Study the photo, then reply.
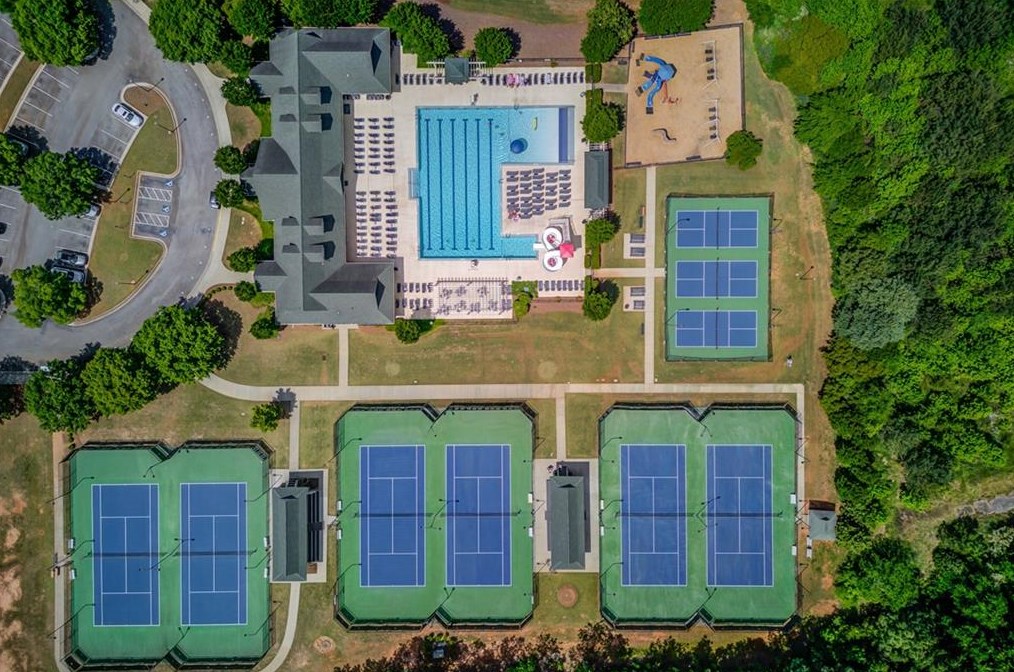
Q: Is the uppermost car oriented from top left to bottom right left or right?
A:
left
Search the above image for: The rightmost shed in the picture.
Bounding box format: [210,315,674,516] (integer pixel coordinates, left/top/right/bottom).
[804,507,836,540]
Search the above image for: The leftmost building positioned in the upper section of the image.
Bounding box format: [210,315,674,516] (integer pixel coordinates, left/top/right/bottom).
[239,27,395,324]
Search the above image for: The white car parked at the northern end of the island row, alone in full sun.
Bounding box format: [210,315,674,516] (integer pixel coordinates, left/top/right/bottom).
[111,103,140,126]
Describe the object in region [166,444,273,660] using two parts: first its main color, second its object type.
green tennis court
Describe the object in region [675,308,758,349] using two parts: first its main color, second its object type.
blue sports court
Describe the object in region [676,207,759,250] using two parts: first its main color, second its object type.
blue sports court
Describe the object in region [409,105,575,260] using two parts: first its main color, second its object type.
blue swimming pool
